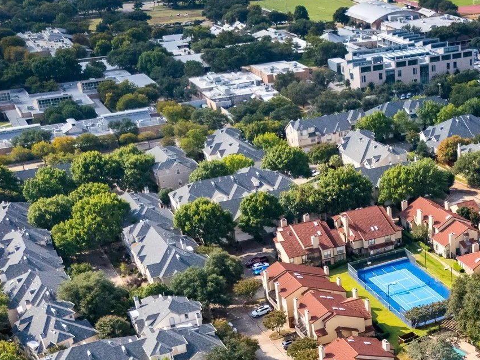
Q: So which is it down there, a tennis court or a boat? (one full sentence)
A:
Visible in the photo is a tennis court.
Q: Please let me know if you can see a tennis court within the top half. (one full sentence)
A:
No, I can find no tennis court within the top half.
